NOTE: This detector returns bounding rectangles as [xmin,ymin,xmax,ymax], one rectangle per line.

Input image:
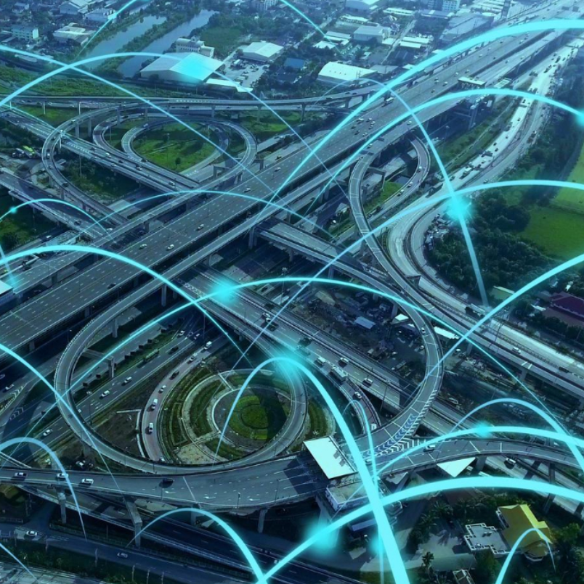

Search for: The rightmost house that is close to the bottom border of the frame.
[491,497,555,566]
